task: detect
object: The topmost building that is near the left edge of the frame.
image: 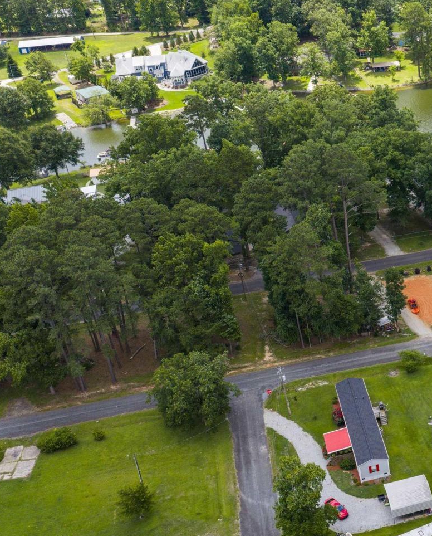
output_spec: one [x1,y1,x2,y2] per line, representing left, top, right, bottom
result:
[18,34,78,55]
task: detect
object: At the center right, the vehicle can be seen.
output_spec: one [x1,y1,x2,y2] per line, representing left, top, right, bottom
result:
[406,298,421,316]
